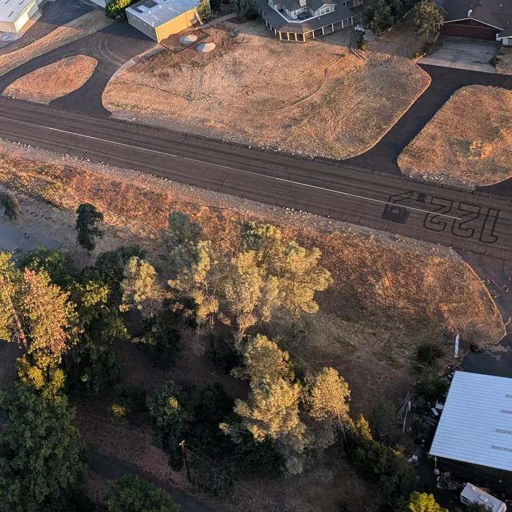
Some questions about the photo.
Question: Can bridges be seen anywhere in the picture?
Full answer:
No, there isn't any bridge down there.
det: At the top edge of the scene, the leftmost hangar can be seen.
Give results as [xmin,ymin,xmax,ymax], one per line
[0,0,36,36]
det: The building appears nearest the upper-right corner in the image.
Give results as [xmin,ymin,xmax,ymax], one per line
[438,0,512,64]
